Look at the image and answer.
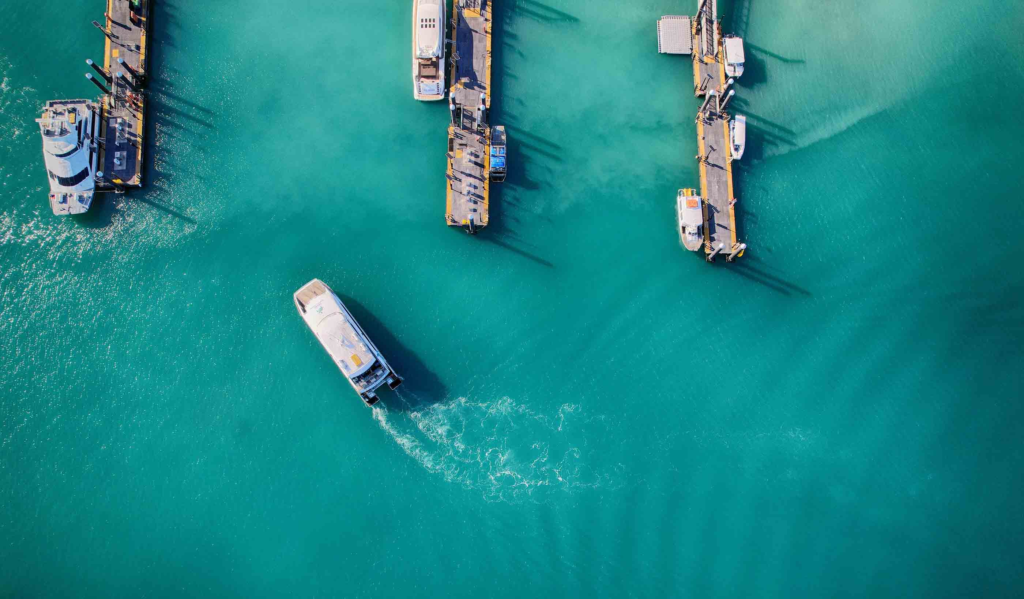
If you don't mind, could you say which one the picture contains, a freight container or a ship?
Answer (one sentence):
The image shows a ship.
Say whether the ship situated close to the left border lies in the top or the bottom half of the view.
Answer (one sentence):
It is in the top half that the ship situated close to the left border appears.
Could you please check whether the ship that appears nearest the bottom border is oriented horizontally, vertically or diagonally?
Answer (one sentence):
In this picture, the ship that appears nearest the bottom border is oriented diagonally.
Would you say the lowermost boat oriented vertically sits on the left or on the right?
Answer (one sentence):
The lowermost boat oriented vertically is on the right side of the image.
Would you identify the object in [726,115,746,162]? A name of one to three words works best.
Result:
boat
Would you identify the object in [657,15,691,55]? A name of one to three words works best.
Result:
pier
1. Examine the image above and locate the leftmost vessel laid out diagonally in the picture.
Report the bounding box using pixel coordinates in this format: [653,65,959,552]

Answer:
[294,279,403,406]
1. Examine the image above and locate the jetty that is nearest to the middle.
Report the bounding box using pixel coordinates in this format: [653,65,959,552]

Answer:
[446,127,491,228]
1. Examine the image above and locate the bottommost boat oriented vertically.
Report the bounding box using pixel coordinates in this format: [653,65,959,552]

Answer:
[677,188,704,252]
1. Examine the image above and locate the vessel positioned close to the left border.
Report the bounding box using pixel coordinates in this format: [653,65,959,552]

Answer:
[35,99,101,216]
